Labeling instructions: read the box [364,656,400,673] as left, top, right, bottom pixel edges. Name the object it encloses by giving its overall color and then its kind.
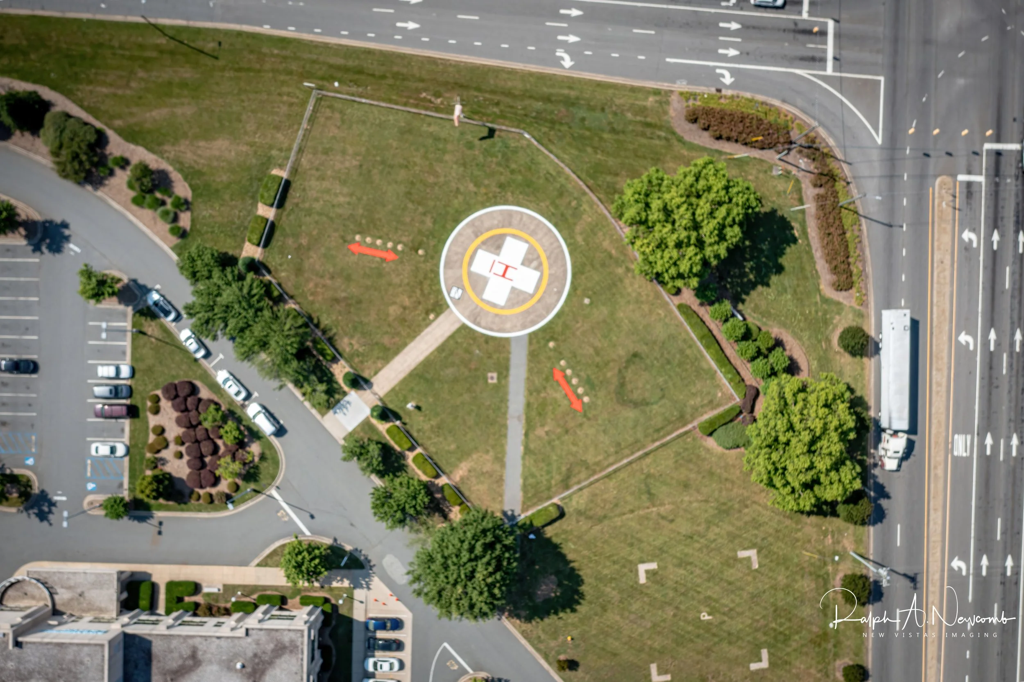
white car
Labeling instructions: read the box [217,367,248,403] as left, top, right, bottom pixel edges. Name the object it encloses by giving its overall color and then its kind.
white car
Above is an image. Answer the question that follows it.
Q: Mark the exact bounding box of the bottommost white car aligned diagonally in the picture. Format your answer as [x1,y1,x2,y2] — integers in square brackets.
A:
[248,400,280,438]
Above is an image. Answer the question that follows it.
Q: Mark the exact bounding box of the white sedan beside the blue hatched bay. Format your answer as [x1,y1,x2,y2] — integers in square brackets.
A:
[90,442,127,458]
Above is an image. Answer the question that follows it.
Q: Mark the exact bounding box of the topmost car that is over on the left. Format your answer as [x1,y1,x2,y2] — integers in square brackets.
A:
[151,288,181,324]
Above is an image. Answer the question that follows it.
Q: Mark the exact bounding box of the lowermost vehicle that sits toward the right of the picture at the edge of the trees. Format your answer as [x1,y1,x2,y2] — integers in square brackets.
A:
[877,309,911,472]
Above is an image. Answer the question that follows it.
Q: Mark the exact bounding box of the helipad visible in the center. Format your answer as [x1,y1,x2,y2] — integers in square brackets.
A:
[440,205,571,337]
